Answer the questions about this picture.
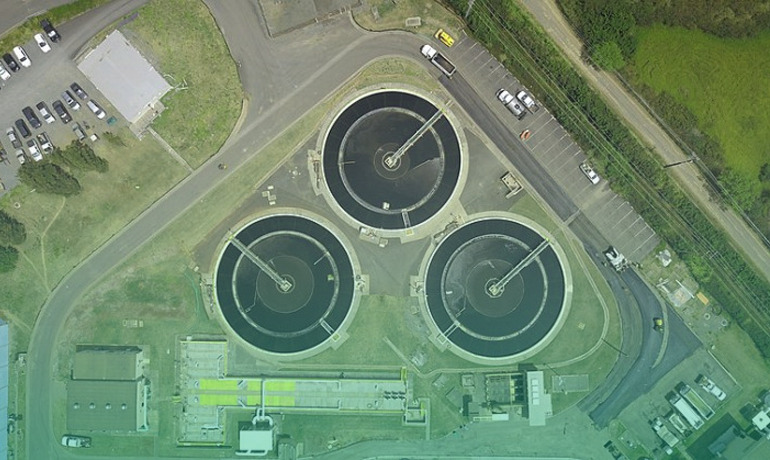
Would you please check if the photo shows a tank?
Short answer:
Yes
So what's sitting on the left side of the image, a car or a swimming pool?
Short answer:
car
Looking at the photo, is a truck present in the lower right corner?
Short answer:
Yes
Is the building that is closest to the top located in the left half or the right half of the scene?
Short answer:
left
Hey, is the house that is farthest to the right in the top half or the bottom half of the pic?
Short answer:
bottom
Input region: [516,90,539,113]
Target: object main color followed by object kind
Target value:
white truck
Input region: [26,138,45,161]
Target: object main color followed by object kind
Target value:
white vehicle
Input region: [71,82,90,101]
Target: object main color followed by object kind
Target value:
gray car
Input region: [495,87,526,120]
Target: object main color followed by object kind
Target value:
white truck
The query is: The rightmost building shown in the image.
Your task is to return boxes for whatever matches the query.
[730,391,770,437]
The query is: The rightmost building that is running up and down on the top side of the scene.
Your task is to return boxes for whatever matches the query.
[308,150,326,196]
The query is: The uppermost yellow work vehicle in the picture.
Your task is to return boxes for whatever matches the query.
[435,31,452,47]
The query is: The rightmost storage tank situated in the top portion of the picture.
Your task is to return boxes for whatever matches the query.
[314,83,469,247]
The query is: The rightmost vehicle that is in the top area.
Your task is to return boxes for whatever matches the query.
[578,161,599,183]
